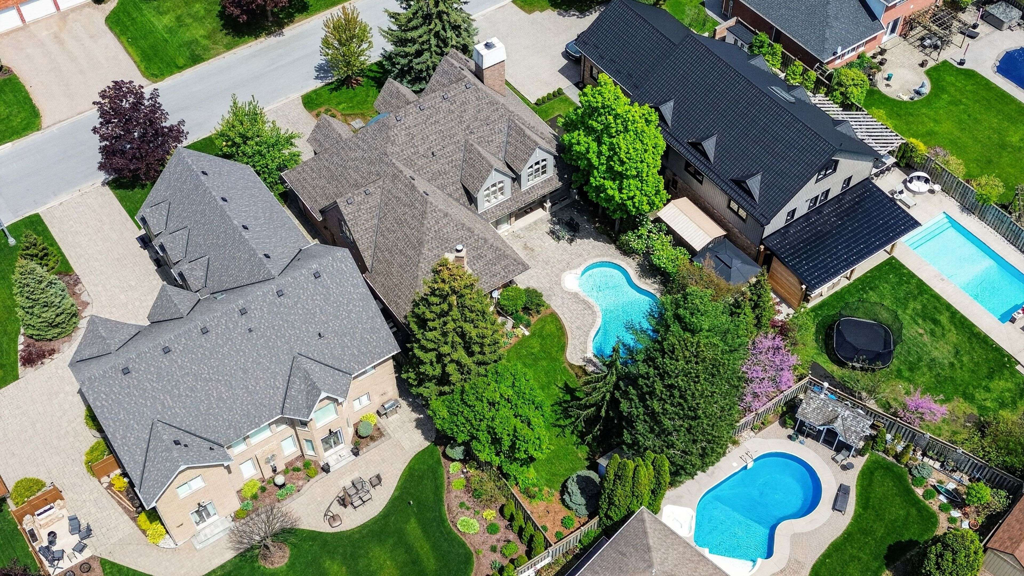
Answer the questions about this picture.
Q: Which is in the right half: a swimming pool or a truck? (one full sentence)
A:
You can see a swimming pool in the right half.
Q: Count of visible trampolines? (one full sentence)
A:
There is 1 trampoline in the image.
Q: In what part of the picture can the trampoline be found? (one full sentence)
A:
Look in the right portion of the view to spot the trampoline.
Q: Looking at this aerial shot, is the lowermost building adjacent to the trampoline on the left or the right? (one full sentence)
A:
The lowermost building adjacent to the trampoline is on the right side of the image.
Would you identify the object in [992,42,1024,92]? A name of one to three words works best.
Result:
swimming pool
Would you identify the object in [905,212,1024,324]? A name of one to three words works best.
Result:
swimming pool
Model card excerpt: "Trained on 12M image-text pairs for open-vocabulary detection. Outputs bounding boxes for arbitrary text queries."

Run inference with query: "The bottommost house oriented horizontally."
[565,507,732,576]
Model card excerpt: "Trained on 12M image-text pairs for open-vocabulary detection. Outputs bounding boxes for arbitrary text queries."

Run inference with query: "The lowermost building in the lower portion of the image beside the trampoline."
[794,378,877,460]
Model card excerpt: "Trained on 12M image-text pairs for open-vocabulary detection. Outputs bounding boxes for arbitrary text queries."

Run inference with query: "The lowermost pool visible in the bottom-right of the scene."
[692,450,824,576]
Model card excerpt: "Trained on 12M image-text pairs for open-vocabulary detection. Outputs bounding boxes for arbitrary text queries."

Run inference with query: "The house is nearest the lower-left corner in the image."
[65,146,401,549]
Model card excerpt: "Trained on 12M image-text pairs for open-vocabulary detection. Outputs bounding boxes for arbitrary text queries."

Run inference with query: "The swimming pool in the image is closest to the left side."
[558,257,671,367]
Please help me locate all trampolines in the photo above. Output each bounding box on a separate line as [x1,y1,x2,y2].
[835,293,902,372]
